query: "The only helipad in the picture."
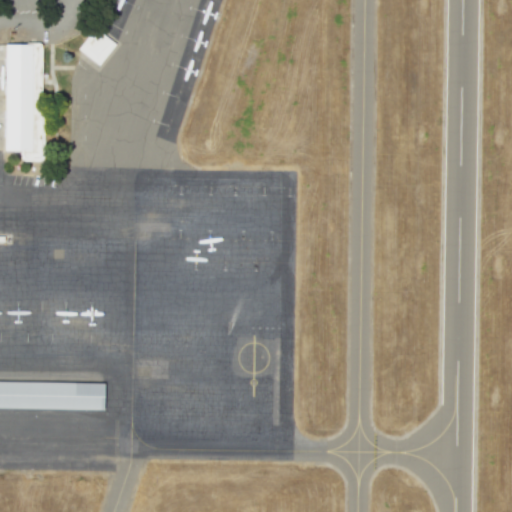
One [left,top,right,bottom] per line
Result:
[233,336,280,426]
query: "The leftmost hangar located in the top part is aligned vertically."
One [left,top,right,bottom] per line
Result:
[6,42,45,161]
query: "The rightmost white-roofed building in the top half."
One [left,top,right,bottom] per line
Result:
[80,32,118,66]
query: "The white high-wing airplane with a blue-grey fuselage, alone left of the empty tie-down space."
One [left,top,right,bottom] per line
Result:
[6,308,30,324]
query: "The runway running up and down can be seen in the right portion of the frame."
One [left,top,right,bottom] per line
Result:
[438,0,482,512]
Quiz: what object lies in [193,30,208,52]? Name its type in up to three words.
airplane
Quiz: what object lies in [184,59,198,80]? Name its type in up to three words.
airplane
